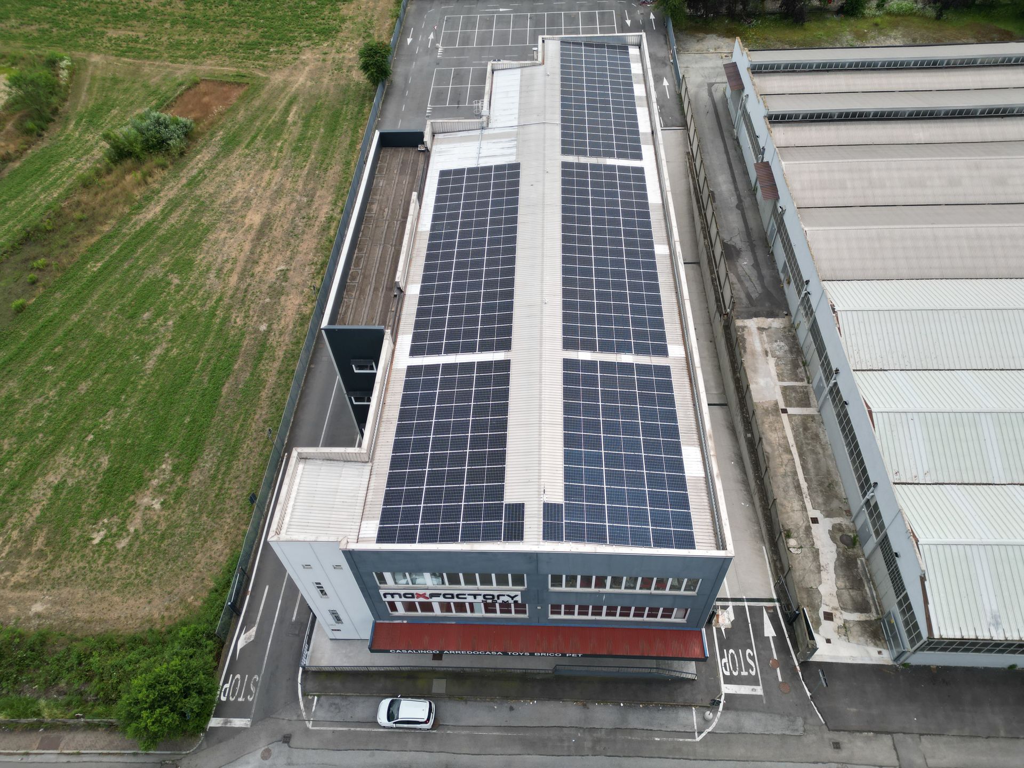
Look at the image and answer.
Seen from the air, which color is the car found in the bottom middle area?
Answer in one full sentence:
The color of the car found in the bottom middle area is white.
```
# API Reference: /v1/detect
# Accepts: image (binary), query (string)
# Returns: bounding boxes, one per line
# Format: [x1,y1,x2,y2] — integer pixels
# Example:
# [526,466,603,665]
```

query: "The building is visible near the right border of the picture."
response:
[723,36,1024,670]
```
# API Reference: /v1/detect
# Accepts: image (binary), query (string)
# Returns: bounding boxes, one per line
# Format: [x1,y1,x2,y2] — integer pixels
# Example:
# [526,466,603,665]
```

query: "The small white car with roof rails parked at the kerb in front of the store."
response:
[376,693,436,730]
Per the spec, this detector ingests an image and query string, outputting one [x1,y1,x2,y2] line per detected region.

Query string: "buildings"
[269,32,735,664]
[723,36,1024,670]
